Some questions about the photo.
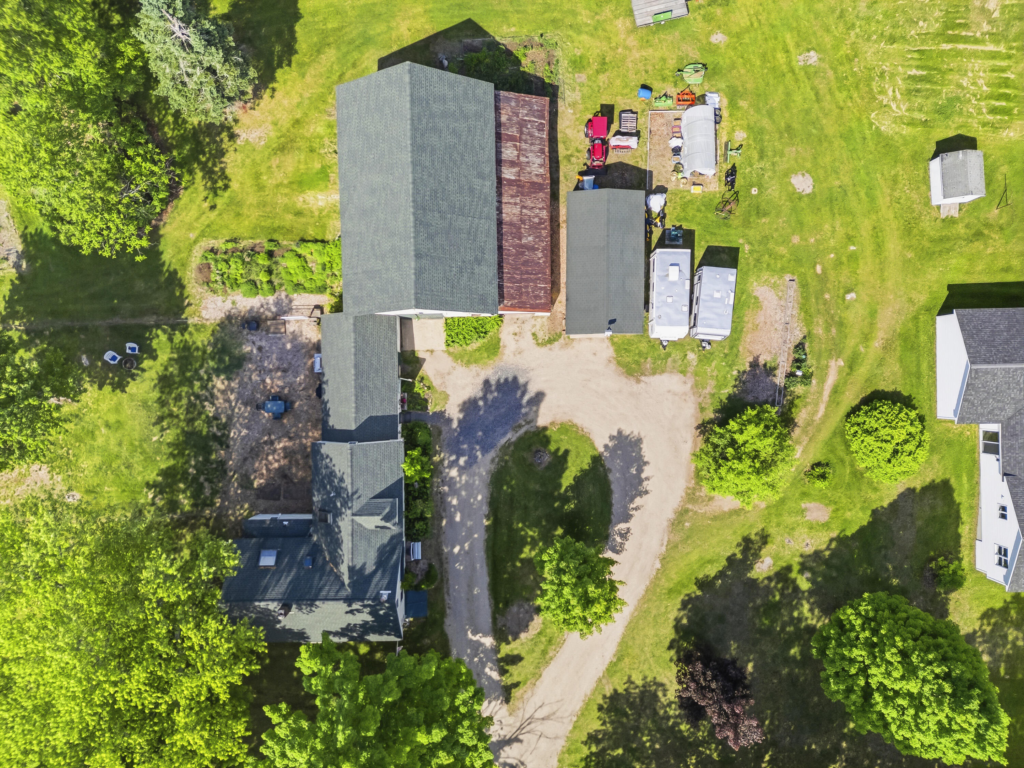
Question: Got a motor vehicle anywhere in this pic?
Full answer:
Yes, this view includes a motor vehicle.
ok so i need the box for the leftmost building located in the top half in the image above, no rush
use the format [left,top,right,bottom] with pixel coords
[335,61,551,324]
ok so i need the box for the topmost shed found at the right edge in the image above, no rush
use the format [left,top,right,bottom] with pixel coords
[929,149,986,206]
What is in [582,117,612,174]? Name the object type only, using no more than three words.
work vehicle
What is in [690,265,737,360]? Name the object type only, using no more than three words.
vehicle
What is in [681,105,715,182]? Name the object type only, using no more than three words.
building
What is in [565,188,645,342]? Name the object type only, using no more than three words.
building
